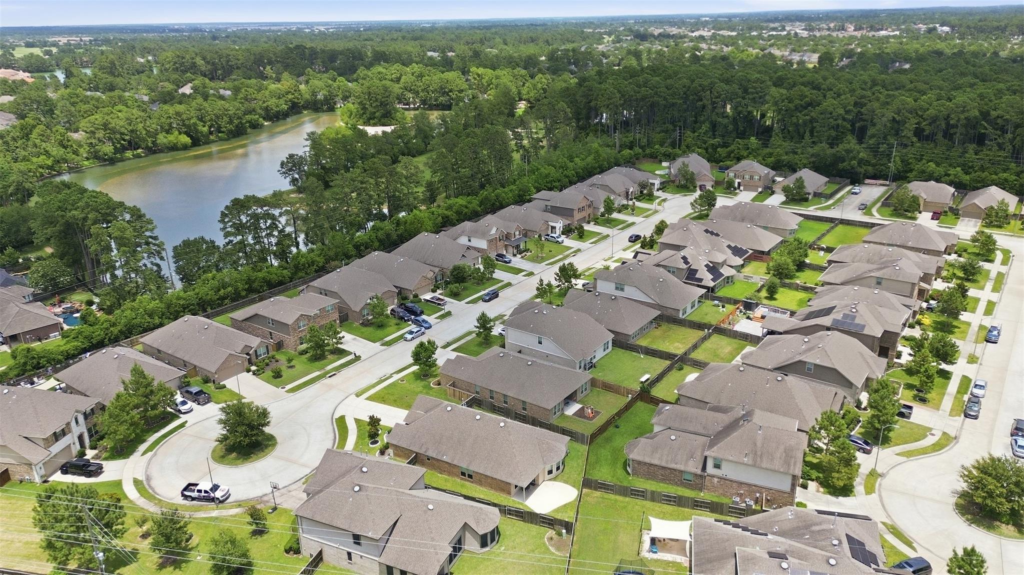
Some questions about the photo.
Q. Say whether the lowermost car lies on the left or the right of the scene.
right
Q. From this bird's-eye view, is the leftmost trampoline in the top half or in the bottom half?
bottom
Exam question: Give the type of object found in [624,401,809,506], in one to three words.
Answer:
house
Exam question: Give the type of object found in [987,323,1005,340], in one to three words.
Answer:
vehicle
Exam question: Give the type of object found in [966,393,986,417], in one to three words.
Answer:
car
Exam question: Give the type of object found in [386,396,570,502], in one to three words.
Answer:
house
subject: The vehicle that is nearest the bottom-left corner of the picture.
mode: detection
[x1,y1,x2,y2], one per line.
[56,453,103,474]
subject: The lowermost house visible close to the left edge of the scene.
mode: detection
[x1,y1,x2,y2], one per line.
[0,388,106,481]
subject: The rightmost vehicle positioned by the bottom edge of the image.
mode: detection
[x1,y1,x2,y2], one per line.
[885,549,937,575]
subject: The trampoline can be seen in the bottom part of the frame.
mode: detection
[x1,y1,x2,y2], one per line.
[606,549,643,575]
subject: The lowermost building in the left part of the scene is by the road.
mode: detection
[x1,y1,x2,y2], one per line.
[292,450,501,575]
